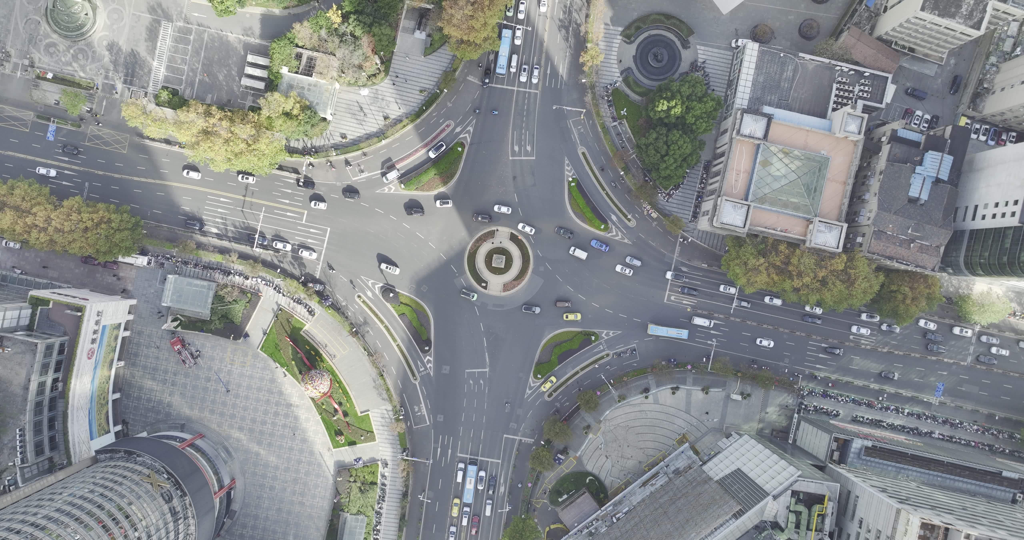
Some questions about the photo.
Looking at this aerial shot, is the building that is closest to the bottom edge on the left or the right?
left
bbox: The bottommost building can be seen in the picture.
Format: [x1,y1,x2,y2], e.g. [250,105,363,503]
[338,509,371,540]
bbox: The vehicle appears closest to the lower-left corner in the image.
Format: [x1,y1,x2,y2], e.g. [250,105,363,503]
[171,334,202,368]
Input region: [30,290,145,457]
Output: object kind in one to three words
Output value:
building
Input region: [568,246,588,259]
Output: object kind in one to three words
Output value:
vehicle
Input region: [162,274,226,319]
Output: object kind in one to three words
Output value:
building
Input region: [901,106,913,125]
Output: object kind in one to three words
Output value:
vehicle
